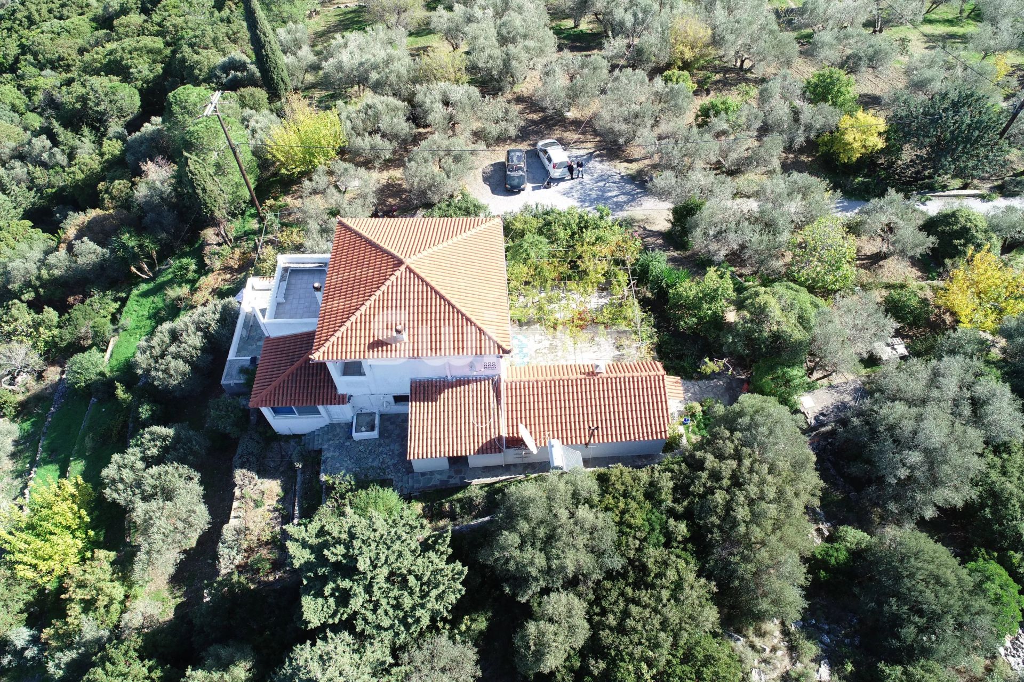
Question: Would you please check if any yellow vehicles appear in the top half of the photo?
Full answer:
No, looking in the top half of the photo, there is no yellow vehicle.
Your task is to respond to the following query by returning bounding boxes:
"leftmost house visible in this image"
[221,215,513,428]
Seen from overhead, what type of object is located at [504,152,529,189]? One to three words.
car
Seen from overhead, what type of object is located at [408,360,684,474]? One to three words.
shed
